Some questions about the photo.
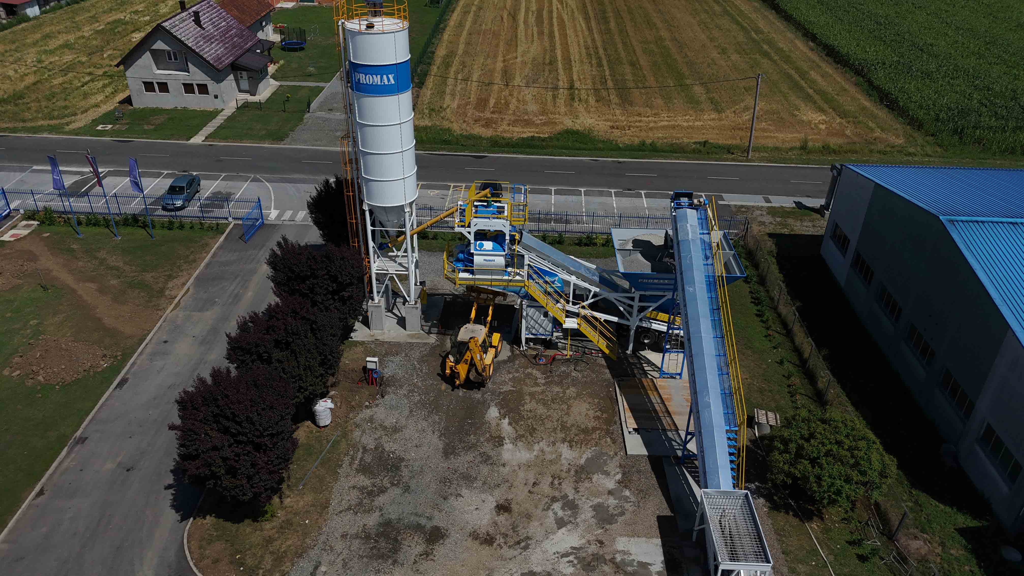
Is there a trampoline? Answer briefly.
Yes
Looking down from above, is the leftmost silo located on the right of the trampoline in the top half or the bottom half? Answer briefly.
top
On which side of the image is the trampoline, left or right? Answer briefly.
left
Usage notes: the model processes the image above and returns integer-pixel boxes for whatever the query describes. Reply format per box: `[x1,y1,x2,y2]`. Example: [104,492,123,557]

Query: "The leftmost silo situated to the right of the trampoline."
[326,0,430,335]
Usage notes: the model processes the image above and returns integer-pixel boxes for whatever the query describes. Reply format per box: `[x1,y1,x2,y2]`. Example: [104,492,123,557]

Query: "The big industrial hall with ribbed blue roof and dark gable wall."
[818,162,1024,531]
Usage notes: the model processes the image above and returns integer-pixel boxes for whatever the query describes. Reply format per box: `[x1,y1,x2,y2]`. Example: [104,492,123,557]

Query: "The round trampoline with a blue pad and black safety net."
[277,28,306,53]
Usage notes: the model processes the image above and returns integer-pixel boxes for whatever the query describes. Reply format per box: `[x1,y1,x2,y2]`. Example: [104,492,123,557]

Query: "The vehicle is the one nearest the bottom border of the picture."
[441,290,505,387]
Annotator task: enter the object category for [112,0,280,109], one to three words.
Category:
house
